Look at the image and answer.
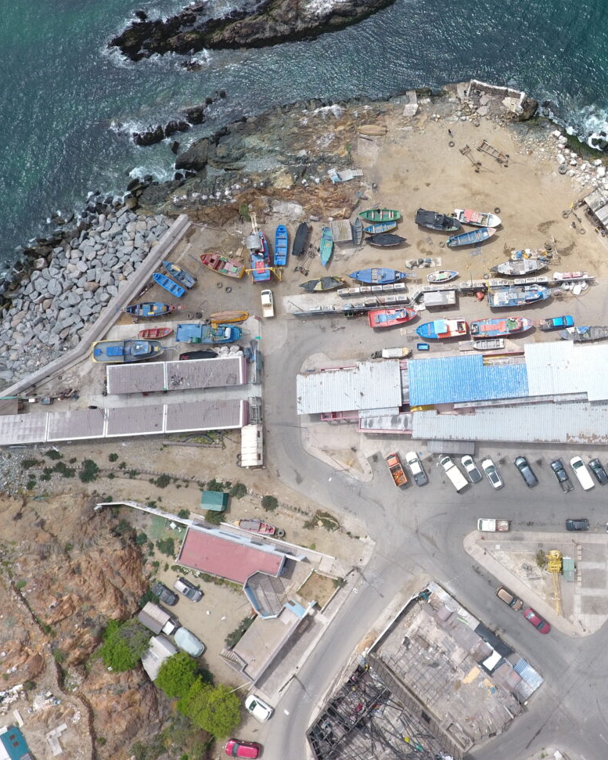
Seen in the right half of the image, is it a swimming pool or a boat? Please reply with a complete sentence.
What appears in the right half of the image is a boat.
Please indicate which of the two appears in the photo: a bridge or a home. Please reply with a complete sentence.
It is a home that can be seen here.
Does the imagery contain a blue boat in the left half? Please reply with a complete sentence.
Yes, you'll find a blue boat in the left half.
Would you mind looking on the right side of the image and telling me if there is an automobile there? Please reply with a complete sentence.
Yes, an automobile appears on the right side of the image.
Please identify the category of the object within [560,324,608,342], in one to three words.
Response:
boat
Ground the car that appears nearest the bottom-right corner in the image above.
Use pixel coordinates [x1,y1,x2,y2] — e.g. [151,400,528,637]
[522,606,552,634]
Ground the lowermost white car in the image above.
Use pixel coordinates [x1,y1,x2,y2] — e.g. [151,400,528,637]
[243,692,276,724]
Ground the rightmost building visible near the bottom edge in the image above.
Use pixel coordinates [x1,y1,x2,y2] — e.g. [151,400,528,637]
[306,579,543,760]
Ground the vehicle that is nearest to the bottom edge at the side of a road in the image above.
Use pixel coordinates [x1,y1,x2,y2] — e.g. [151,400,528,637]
[224,739,263,760]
